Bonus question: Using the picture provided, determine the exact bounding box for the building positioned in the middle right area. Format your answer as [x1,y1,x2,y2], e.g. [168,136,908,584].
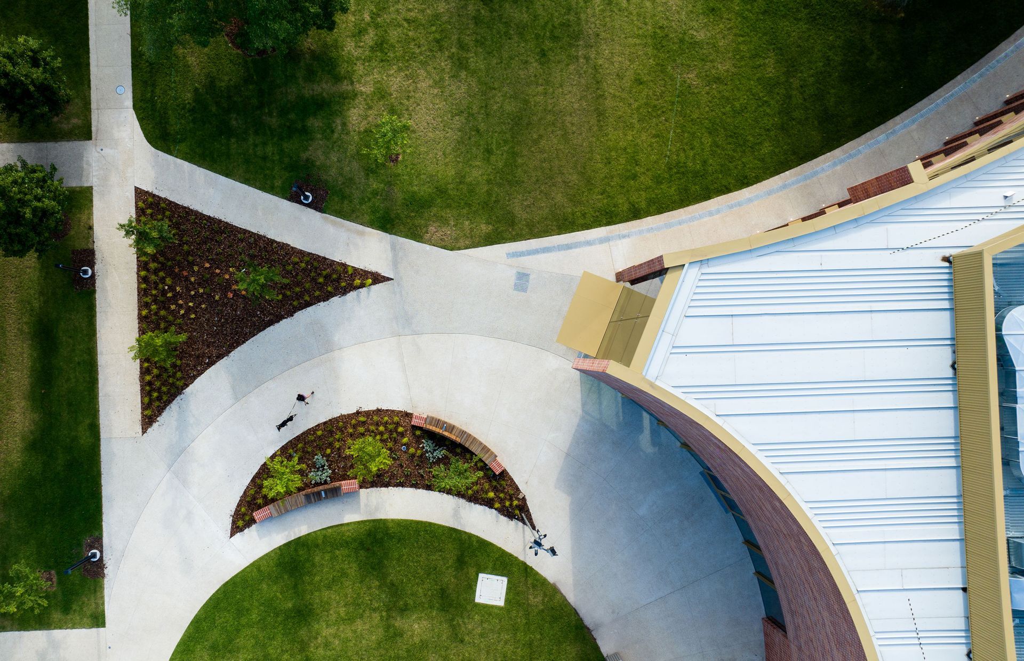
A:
[556,95,1024,661]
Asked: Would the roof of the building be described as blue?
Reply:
No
